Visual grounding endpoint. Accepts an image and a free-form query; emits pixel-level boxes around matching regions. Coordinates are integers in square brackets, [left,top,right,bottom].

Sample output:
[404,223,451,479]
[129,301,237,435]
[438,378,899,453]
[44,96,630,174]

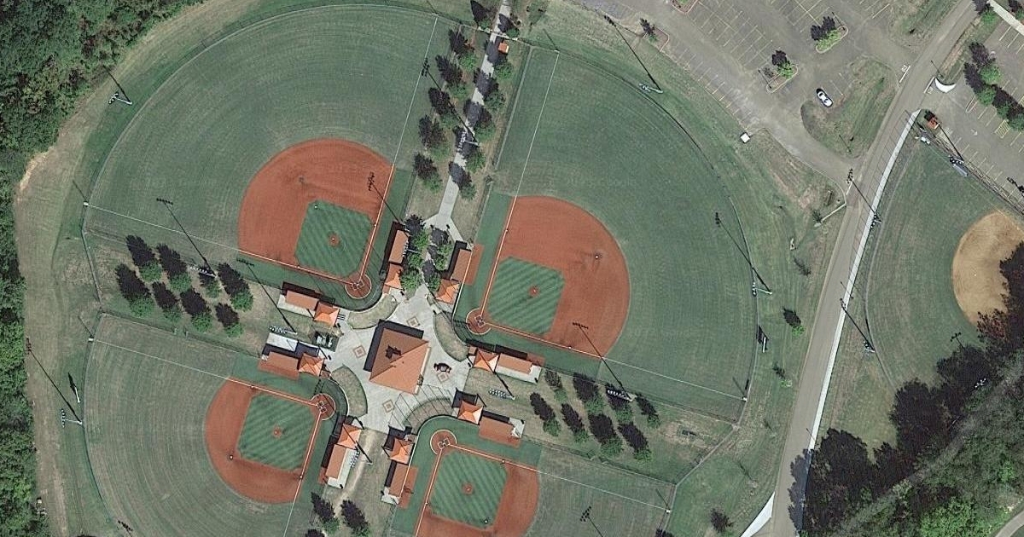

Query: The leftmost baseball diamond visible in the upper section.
[84,5,459,312]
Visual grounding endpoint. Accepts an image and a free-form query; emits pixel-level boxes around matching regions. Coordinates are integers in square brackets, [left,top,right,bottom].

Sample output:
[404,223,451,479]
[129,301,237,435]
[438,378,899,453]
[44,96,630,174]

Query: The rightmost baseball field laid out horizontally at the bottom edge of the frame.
[384,412,673,537]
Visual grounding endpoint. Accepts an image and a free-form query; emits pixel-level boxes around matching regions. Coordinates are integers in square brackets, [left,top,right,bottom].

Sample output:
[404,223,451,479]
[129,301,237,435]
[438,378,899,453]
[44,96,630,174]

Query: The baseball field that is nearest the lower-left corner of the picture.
[85,310,347,537]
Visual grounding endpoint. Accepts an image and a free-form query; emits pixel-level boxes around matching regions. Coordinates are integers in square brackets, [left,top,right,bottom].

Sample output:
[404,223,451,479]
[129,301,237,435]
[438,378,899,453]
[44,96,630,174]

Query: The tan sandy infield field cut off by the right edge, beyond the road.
[868,140,1024,432]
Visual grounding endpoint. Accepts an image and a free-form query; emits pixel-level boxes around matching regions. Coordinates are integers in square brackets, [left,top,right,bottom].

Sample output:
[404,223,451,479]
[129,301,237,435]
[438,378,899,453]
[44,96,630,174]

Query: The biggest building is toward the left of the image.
[369,328,430,394]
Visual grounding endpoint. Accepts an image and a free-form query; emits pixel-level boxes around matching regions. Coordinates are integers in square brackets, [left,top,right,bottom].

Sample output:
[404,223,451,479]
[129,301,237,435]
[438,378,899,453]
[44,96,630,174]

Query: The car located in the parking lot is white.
[817,89,831,107]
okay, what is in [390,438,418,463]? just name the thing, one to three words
building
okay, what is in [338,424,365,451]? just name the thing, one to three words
building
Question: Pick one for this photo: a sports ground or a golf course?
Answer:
sports ground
